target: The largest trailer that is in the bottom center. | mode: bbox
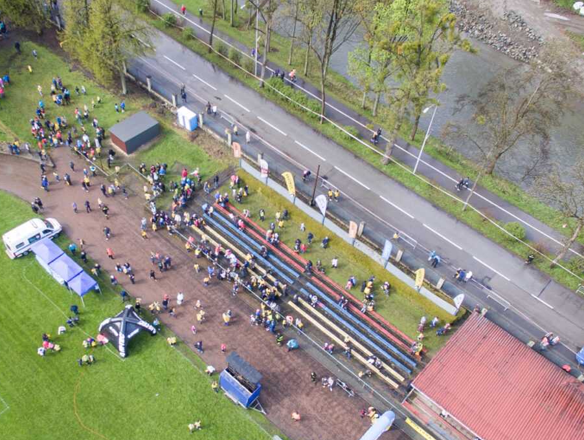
[219,355,267,416]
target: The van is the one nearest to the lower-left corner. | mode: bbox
[0,216,61,259]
